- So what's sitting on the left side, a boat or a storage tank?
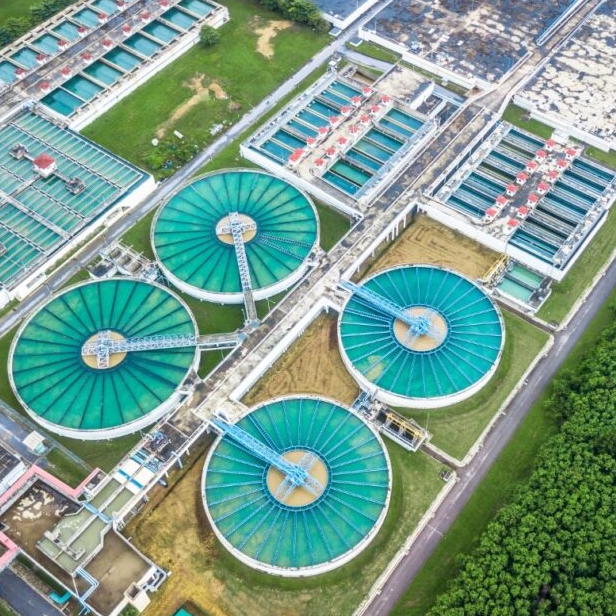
storage tank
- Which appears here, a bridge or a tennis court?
bridge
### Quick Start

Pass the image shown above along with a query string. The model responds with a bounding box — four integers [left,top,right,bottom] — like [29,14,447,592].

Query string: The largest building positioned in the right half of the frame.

[373,65,434,109]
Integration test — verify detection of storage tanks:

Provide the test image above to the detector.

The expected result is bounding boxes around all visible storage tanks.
[0,106,156,316]
[150,167,320,324]
[337,261,506,408]
[7,274,242,439]
[201,394,392,575]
